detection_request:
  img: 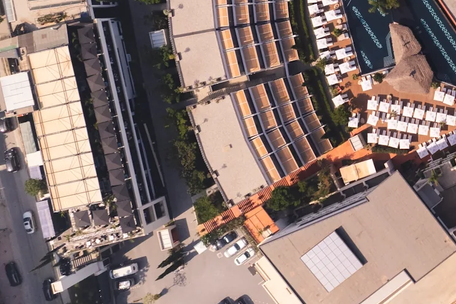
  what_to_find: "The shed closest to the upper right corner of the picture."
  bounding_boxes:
[389,23,423,63]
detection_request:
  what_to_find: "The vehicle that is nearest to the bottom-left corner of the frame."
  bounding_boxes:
[3,261,22,288]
